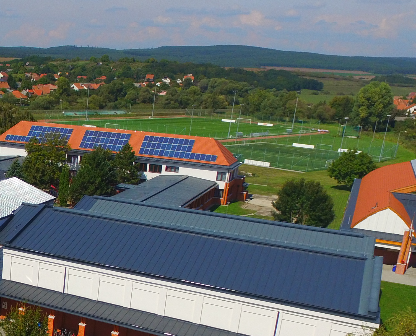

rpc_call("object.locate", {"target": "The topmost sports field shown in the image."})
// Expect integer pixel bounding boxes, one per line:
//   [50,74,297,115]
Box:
[37,120,308,136]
